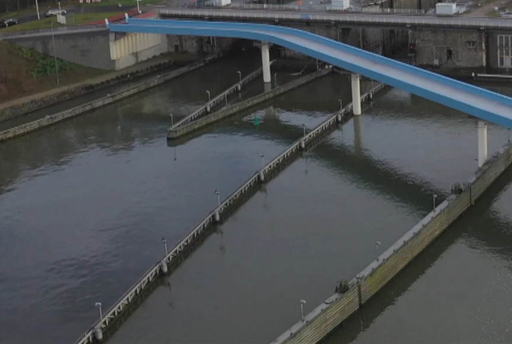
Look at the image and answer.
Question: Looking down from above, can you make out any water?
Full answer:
Yes, some water is visible.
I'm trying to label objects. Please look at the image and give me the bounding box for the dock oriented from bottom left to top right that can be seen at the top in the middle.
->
[166,56,281,126]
